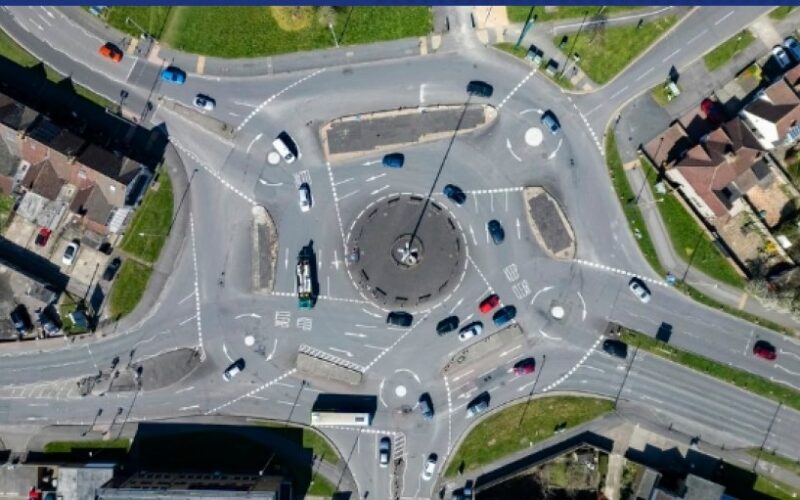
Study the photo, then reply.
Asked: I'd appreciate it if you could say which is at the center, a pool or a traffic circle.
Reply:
traffic circle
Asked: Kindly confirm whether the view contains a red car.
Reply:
Yes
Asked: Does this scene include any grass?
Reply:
Yes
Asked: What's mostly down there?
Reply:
paved ground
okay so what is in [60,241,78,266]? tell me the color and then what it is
white car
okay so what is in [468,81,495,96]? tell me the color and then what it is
black car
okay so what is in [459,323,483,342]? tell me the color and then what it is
white car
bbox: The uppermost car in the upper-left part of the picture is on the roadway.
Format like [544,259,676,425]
[97,42,122,61]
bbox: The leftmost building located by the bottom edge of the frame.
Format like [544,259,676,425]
[52,464,120,500]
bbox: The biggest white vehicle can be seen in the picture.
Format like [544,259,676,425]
[311,408,371,427]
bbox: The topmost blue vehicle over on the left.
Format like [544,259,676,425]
[160,69,184,84]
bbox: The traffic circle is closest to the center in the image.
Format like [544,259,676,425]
[345,190,468,312]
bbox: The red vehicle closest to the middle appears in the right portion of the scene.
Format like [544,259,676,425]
[479,295,501,314]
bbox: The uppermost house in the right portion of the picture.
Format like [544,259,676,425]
[743,53,800,148]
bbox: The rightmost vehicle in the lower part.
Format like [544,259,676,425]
[754,345,780,360]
